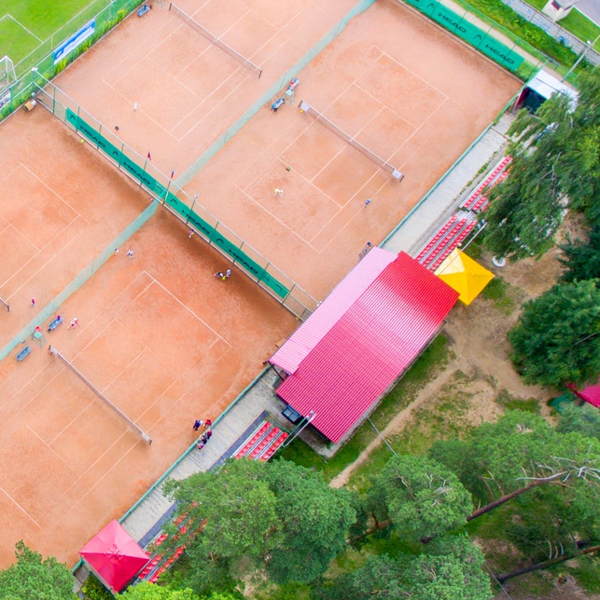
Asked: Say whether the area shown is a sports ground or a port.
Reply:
sports ground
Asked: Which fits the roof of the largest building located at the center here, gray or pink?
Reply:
pink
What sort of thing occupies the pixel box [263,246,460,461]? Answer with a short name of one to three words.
building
